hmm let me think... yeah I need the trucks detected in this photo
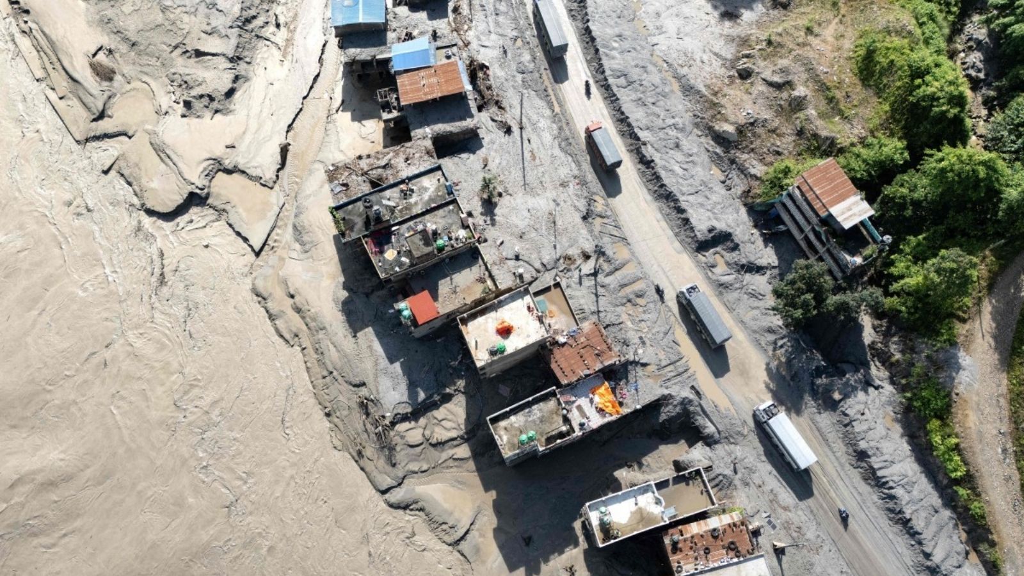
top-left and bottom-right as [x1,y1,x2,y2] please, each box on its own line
[581,118,624,178]
[747,396,818,472]
[528,0,569,63]
[675,282,734,352]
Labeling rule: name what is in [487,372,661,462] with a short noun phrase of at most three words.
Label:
house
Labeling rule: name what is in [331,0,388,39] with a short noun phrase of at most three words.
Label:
house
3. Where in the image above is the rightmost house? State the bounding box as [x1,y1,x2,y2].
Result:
[771,158,882,284]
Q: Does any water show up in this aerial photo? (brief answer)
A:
Yes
